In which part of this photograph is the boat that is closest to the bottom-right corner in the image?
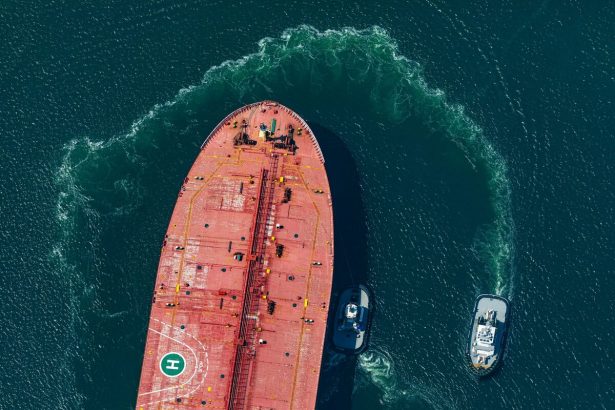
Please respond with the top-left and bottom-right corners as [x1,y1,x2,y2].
[465,292,507,376]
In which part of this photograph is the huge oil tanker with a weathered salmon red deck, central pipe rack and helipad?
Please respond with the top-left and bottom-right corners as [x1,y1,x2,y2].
[136,98,335,410]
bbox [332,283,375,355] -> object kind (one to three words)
boat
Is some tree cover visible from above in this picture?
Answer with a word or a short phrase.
No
